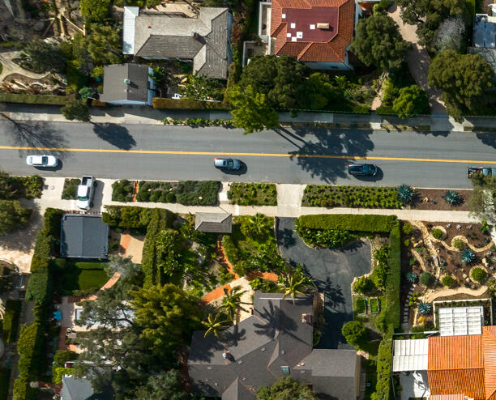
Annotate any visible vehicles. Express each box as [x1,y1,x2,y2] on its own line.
[27,154,61,169]
[216,158,244,172]
[76,173,96,210]
[348,163,379,178]
[468,165,496,180]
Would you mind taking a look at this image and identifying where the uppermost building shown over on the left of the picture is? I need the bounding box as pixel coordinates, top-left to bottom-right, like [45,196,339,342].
[123,6,236,82]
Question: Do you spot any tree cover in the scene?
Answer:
Yes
